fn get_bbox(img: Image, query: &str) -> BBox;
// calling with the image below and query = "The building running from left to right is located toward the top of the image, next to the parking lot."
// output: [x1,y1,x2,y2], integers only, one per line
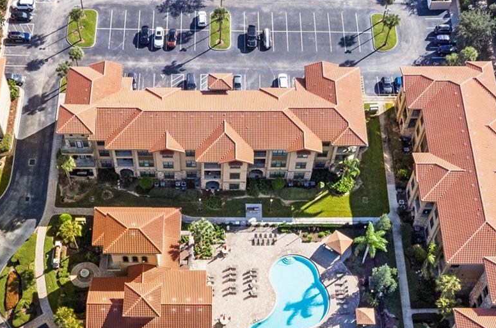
[56,59,368,190]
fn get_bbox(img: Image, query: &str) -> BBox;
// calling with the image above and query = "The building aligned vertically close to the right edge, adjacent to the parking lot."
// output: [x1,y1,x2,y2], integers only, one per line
[394,60,496,309]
